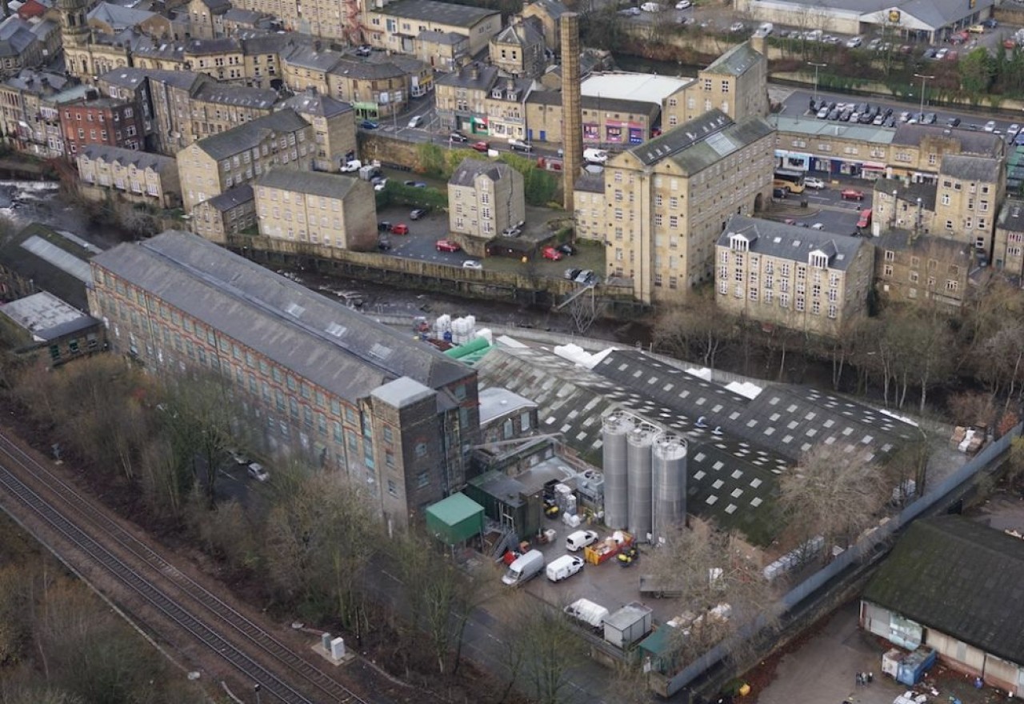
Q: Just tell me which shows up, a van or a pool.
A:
van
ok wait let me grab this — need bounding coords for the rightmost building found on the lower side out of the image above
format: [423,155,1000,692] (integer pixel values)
[857,504,1024,700]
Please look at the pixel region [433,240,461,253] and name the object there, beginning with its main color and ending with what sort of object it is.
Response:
red vehicle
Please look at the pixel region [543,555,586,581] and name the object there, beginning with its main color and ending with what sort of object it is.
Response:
white vehicle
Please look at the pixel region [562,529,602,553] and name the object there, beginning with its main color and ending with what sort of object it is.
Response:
white vehicle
